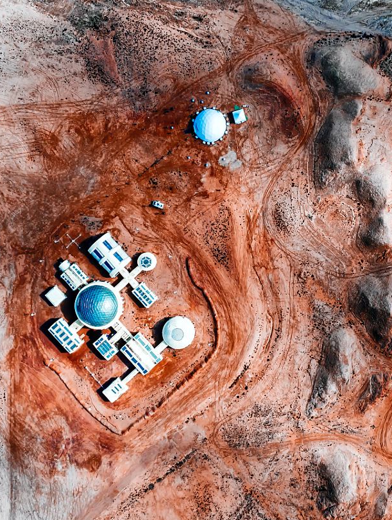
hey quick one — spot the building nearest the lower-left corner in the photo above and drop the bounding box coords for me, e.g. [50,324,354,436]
[102,376,128,403]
